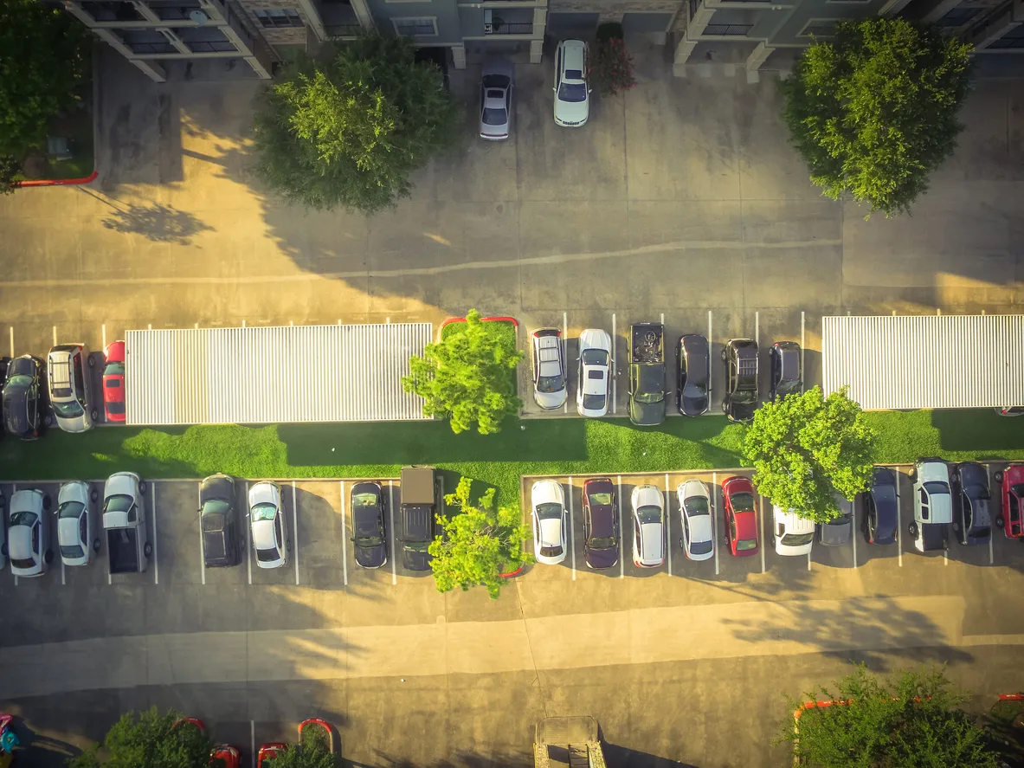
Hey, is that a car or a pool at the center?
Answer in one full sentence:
Visible at the center is a car.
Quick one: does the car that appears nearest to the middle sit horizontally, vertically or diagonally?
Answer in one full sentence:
The car that appears nearest to the middle has been laid out vertically relative to the frame.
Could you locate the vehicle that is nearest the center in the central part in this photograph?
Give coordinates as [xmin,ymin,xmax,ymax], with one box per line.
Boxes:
[531,328,570,410]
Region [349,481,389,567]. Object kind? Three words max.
car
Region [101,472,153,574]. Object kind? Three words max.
truck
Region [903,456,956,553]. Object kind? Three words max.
truck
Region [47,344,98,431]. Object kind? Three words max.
car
